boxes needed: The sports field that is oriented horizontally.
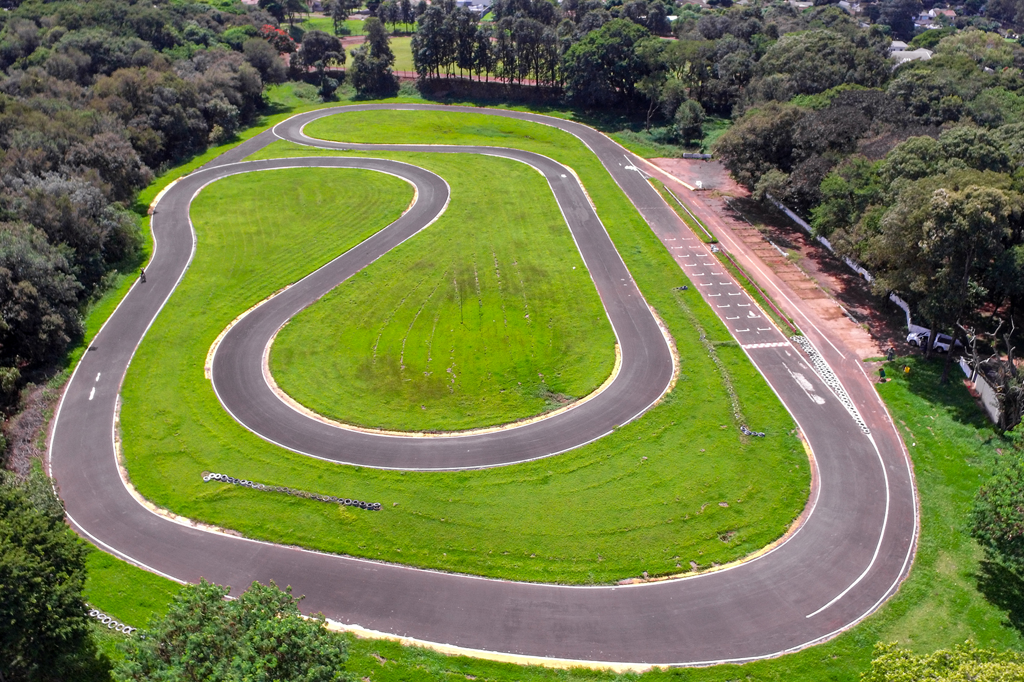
[341,38,677,80]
